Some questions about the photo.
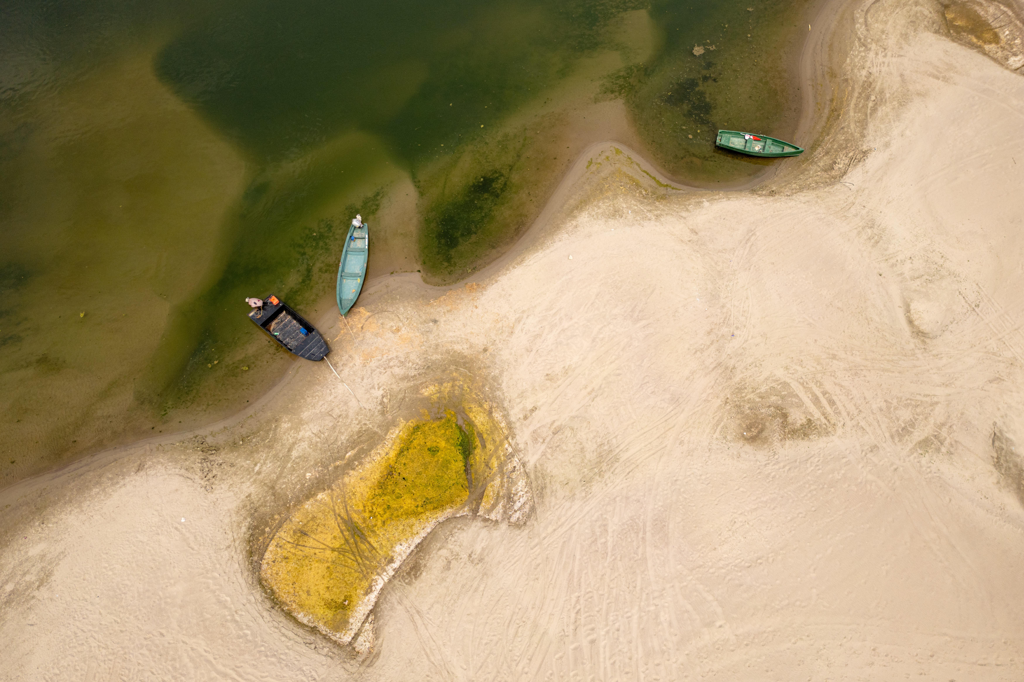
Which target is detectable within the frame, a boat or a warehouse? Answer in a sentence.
I can see a boat in this picture.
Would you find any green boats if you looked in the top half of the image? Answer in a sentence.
Yes, a green boat is visible in the top half of the image.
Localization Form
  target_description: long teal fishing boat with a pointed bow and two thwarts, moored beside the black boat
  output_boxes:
[336,223,369,317]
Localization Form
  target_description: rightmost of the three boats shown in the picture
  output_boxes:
[713,129,804,155]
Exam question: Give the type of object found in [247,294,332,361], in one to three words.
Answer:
boat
